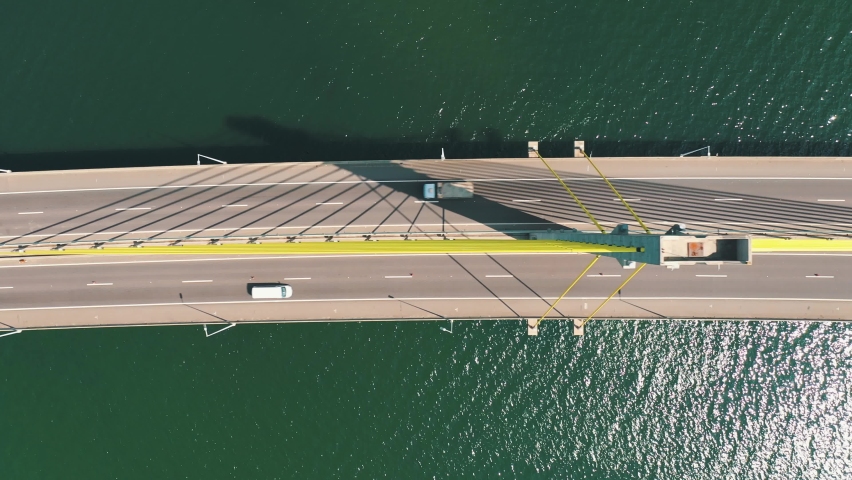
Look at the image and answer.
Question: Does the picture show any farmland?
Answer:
No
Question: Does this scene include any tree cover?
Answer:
No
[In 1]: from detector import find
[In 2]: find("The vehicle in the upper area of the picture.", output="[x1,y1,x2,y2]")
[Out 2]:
[423,182,473,200]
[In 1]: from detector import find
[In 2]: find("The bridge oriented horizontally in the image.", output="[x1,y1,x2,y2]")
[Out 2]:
[0,141,852,335]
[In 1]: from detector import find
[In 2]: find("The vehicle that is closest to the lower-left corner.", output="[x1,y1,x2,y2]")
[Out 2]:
[251,283,292,299]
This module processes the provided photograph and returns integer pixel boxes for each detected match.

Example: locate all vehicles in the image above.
[251,283,292,299]
[423,182,473,200]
